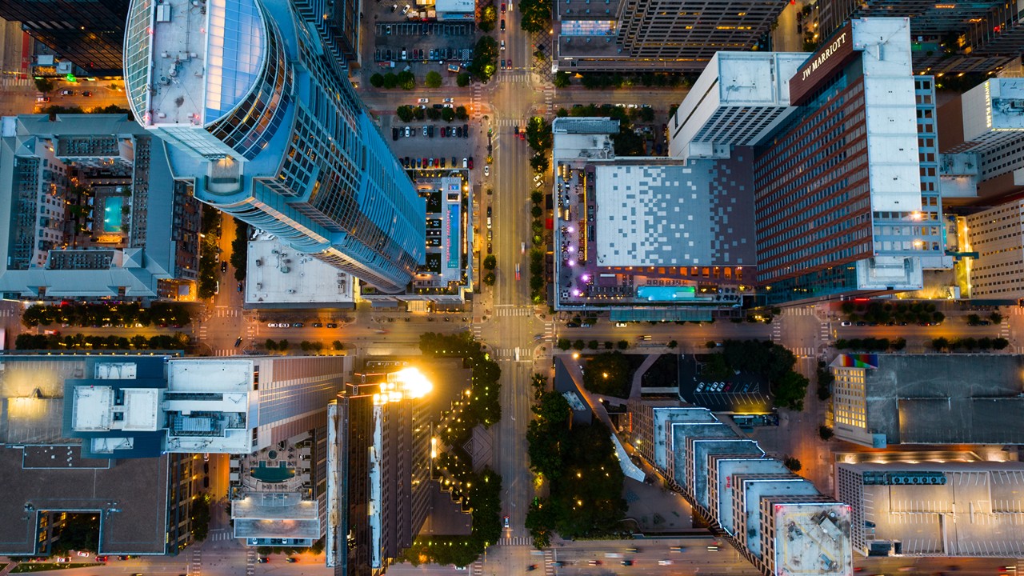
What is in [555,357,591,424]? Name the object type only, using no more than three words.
building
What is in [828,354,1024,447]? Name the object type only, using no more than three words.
building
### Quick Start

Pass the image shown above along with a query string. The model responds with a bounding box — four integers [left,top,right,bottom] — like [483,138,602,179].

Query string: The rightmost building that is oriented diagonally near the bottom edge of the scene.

[628,398,855,576]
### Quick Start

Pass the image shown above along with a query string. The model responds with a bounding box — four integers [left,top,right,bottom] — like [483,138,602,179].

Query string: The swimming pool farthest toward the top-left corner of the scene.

[104,197,122,232]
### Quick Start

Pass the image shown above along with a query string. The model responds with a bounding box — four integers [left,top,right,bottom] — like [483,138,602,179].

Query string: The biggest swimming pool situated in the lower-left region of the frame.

[250,467,296,482]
